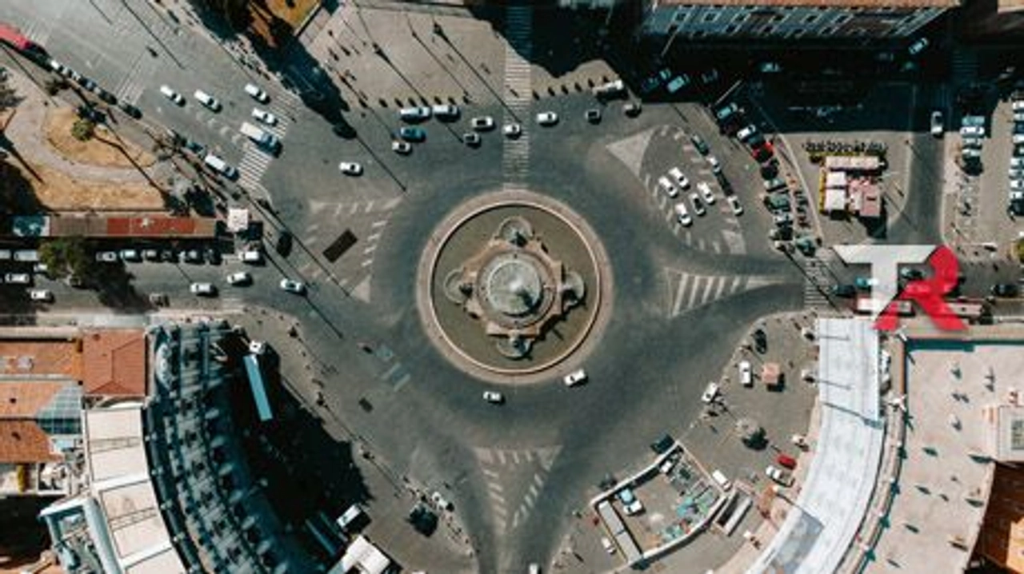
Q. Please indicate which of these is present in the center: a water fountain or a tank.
water fountain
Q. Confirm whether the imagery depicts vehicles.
Yes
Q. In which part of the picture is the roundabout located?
center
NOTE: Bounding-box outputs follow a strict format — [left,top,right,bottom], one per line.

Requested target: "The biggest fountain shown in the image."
[428,198,604,374]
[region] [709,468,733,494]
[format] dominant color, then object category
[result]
white vehicle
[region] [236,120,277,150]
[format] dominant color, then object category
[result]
white truck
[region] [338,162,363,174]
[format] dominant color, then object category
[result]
white vehicle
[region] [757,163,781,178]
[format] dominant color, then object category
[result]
black car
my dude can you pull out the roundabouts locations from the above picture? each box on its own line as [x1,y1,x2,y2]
[338,108,694,464]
